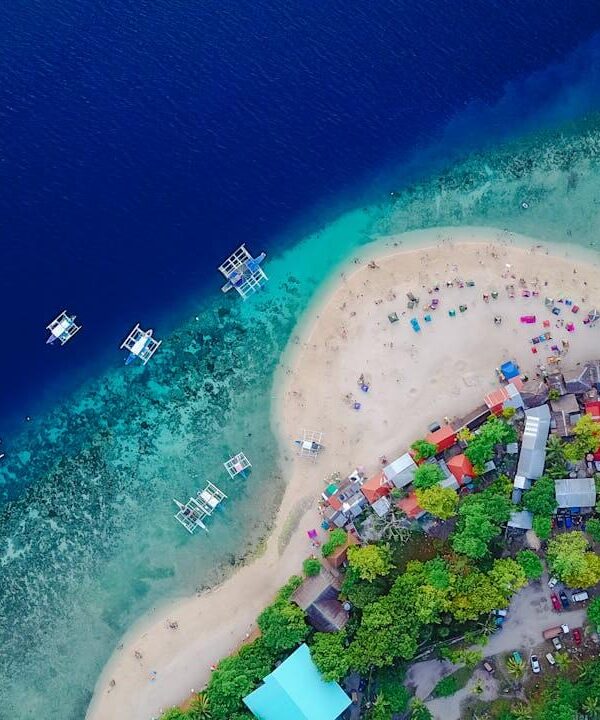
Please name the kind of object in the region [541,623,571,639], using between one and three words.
vehicle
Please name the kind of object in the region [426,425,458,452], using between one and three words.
house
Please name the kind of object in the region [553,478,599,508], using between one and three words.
shed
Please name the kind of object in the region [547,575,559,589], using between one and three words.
vehicle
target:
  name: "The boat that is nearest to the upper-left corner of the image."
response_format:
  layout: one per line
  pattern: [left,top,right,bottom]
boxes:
[44,313,78,349]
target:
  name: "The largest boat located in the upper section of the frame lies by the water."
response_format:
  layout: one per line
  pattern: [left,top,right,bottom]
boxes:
[217,245,270,300]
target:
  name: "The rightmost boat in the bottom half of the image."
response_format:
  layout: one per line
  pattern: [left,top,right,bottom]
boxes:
[289,430,324,460]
